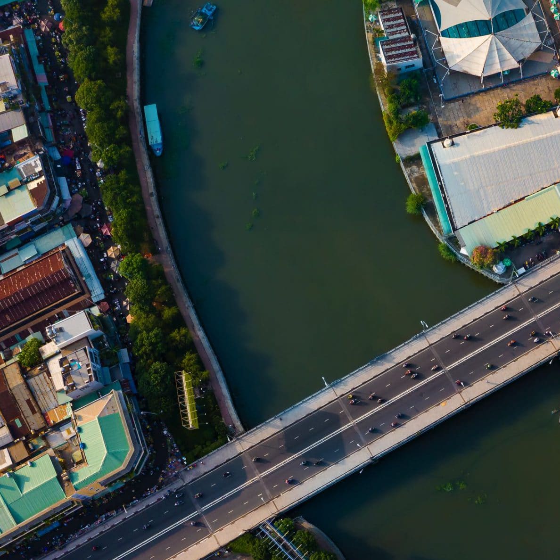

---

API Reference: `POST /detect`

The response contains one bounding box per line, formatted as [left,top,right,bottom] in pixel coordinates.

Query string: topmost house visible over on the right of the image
[378,7,410,39]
